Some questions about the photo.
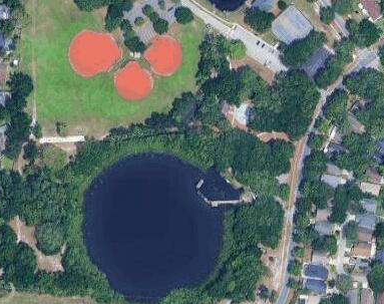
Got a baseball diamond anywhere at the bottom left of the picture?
No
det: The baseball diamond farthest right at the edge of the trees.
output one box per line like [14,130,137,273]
[142,34,183,76]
